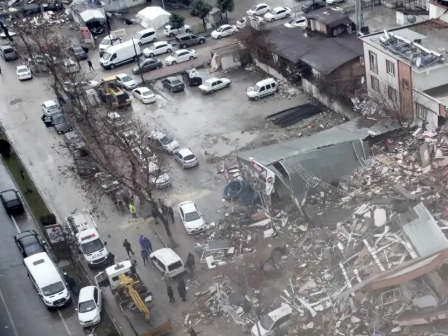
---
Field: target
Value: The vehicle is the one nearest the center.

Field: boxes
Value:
[173,148,198,171]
